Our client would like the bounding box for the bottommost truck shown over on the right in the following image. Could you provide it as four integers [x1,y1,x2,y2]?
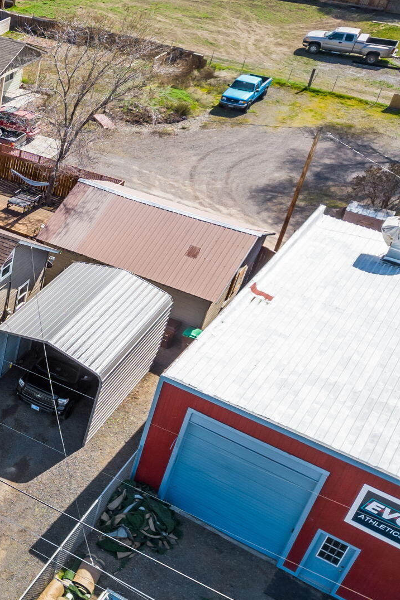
[219,70,280,108]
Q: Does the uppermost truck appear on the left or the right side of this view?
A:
right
